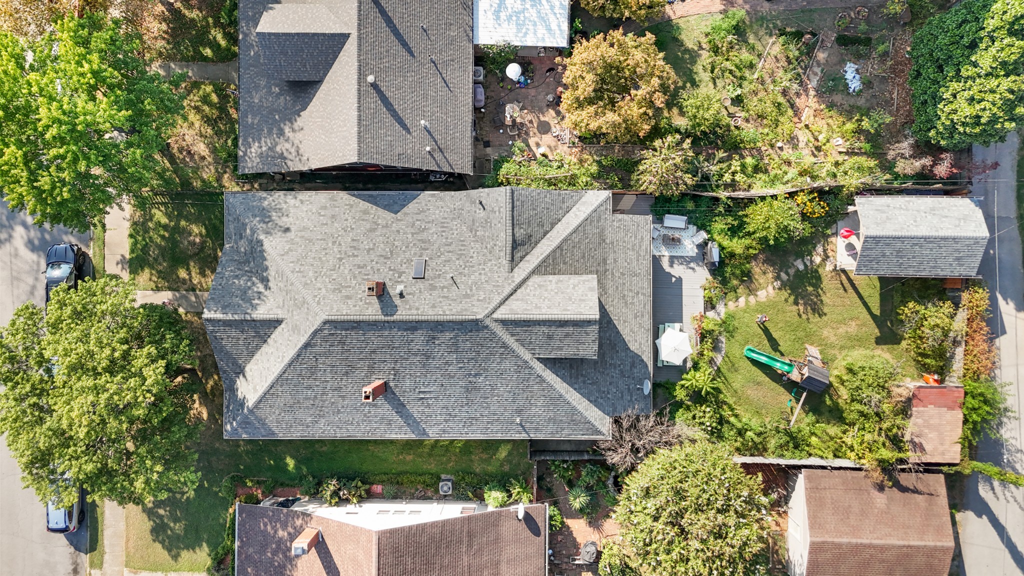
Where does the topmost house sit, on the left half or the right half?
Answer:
left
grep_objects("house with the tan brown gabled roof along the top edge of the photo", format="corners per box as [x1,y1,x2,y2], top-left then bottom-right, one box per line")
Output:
[236,0,476,178]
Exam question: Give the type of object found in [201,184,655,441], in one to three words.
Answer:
house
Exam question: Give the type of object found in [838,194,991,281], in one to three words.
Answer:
shed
